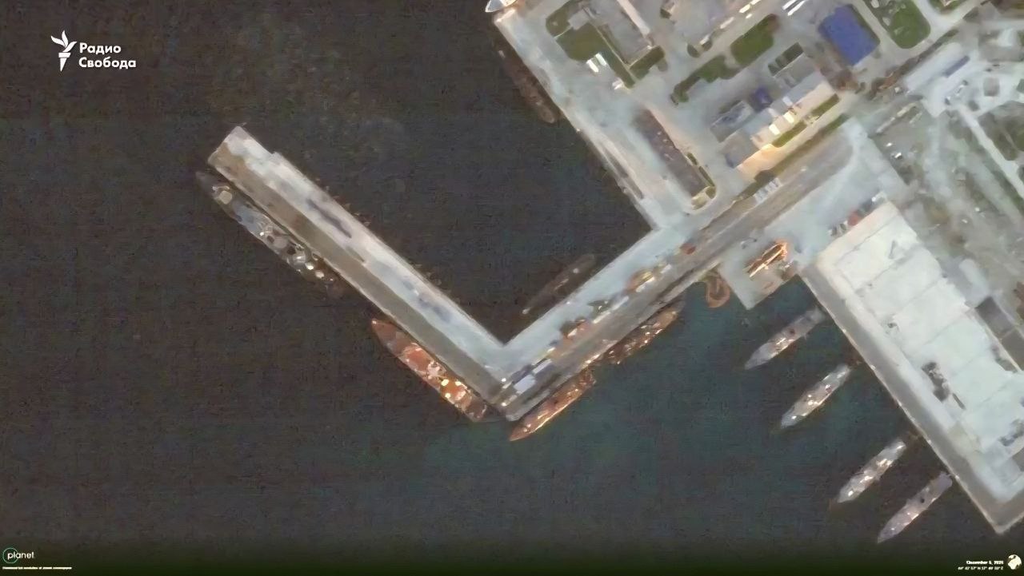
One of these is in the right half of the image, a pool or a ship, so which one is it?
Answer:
ship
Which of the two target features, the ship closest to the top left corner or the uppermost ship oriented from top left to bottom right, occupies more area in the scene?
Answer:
the ship closest to the top left corner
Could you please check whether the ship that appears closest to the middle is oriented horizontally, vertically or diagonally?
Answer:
diagonally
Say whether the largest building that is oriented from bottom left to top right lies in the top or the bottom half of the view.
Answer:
top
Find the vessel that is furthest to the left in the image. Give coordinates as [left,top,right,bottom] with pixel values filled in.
[196,170,346,302]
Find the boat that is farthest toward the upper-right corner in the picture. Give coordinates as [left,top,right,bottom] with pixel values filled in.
[749,242,793,279]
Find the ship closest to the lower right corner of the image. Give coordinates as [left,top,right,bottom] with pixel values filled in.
[879,469,957,542]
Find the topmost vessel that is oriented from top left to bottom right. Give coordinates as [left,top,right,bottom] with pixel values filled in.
[499,46,555,121]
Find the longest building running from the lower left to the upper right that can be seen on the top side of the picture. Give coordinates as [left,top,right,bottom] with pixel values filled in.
[738,70,839,154]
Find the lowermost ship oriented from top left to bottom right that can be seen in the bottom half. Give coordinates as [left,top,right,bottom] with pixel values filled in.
[373,320,491,428]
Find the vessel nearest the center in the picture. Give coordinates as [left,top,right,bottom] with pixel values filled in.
[524,256,594,312]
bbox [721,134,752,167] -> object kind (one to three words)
building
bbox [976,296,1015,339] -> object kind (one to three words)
building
